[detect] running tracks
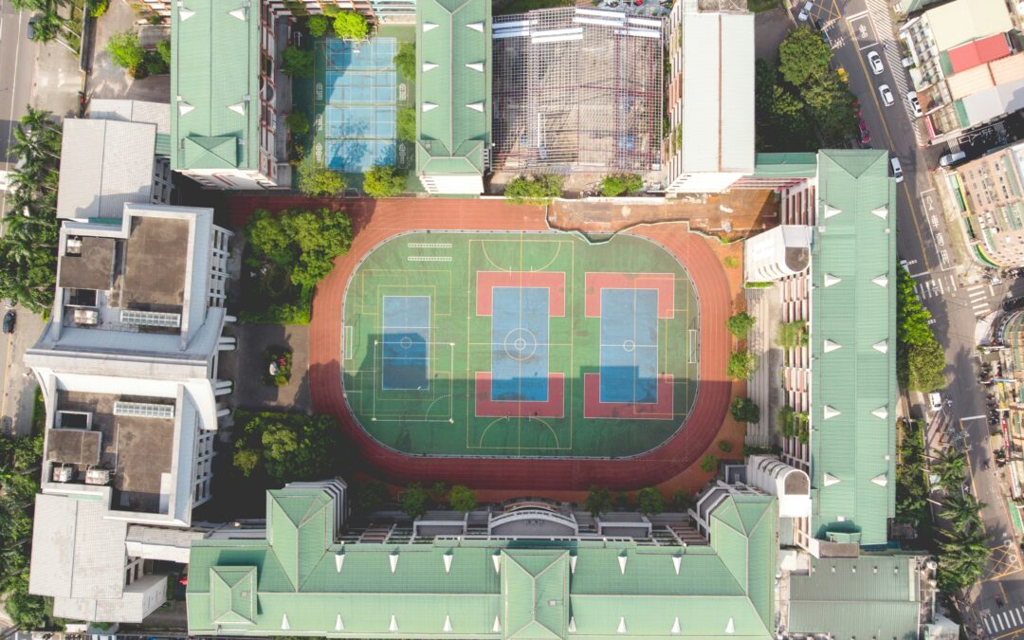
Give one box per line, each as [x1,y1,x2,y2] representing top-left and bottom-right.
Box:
[228,197,732,490]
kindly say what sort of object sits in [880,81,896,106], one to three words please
car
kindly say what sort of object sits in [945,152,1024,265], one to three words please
building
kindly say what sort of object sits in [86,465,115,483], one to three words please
water tank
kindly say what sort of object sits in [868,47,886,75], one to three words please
car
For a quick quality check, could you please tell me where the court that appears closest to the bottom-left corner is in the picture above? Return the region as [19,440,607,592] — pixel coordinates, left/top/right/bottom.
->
[343,270,451,416]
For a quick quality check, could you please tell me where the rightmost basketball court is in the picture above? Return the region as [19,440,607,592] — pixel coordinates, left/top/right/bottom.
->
[585,273,688,419]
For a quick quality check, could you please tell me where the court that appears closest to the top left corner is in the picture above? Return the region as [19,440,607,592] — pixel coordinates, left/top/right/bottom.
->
[294,23,417,194]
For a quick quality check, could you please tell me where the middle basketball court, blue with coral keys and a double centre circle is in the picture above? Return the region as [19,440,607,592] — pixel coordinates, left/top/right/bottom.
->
[476,272,564,418]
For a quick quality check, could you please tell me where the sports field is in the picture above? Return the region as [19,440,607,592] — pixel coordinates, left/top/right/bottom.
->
[341,231,700,459]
